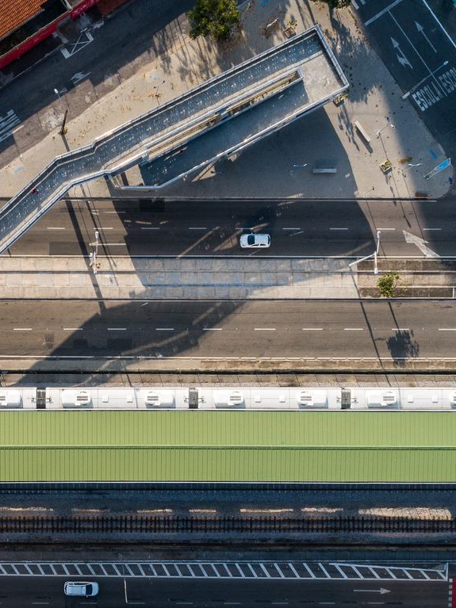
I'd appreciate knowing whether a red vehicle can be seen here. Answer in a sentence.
No, no red vehicle is visible in the scene.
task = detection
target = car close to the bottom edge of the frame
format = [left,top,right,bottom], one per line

[65,580,99,599]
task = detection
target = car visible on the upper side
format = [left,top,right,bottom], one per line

[238,231,271,249]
